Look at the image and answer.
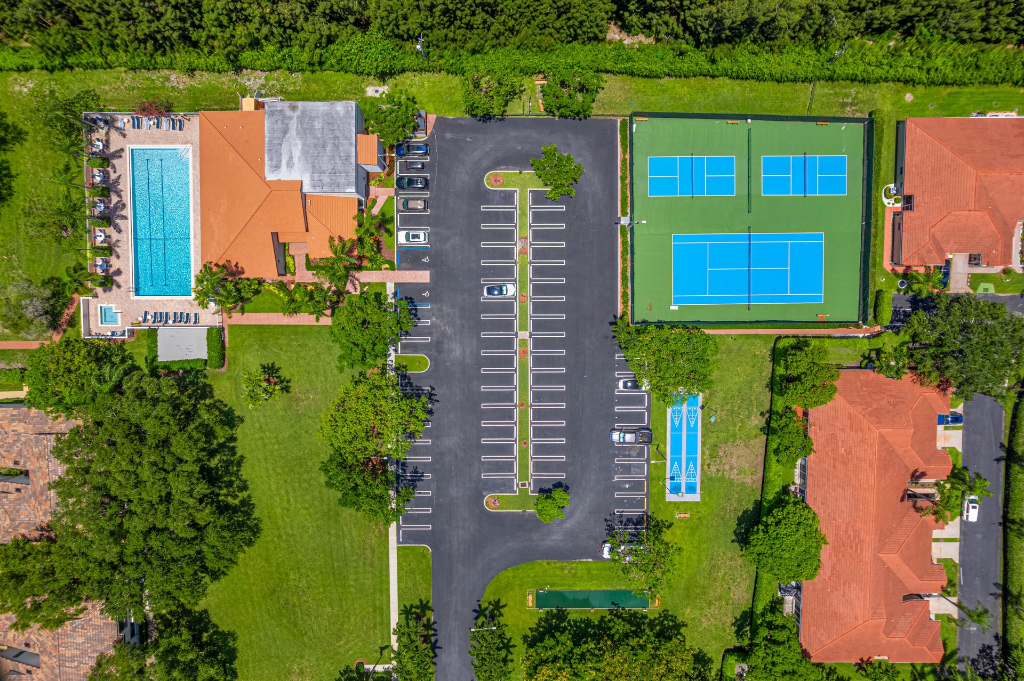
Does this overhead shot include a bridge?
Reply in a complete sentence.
No, no bridge is visible in the view.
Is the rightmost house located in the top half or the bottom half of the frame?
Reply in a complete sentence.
Seen from above, the rightmost house lies in the top half of the view.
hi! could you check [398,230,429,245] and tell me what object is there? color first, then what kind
white car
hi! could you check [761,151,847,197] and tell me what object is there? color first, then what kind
blue sports court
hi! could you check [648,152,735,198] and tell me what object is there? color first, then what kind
blue sports court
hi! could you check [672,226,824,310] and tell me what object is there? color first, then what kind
blue tennis court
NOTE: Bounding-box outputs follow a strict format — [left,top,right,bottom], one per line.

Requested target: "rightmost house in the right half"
[886,116,1024,267]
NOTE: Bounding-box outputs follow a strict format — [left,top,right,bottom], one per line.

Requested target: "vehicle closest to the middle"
[484,283,515,298]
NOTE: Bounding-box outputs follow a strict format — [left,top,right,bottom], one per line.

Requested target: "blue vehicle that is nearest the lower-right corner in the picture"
[937,412,967,426]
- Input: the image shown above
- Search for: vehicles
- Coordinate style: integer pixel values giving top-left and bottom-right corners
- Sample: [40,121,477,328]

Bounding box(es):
[397,142,429,158]
[406,160,425,172]
[611,429,652,445]
[938,260,954,289]
[618,377,648,392]
[601,543,640,560]
[397,175,429,190]
[484,283,515,298]
[398,197,427,212]
[398,230,429,245]
[958,493,978,525]
[937,412,967,426]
